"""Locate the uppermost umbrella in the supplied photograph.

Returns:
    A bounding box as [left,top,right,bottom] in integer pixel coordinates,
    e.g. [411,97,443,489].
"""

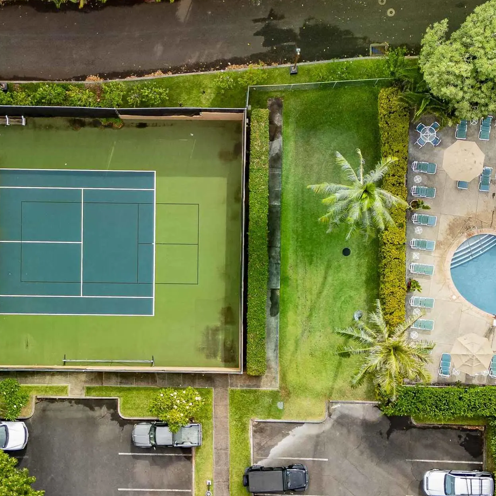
[442,139,484,181]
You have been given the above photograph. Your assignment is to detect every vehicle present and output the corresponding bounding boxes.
[422,467,495,496]
[132,421,203,450]
[245,464,310,495]
[0,421,31,453]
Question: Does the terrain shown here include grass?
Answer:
Yes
